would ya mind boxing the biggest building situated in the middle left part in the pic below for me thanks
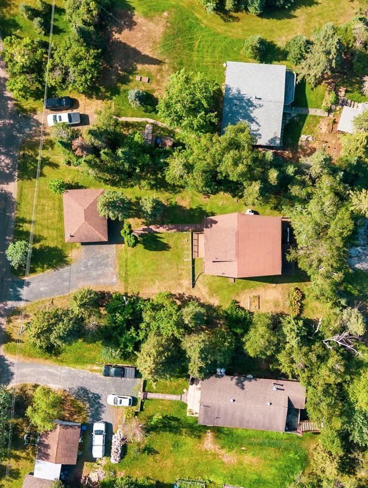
[62,188,108,242]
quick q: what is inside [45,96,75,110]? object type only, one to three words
vehicle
